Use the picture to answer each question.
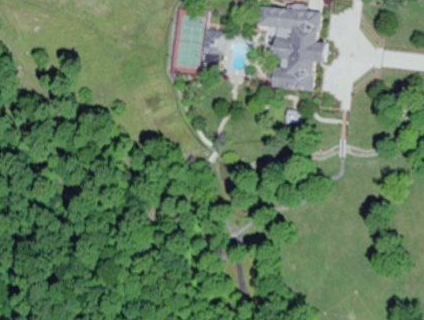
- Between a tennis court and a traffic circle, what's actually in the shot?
tennis court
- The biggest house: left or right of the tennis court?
right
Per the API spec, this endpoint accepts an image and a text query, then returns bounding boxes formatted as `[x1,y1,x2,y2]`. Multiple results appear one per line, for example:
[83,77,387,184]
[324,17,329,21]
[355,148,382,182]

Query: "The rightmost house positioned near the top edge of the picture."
[258,3,334,92]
